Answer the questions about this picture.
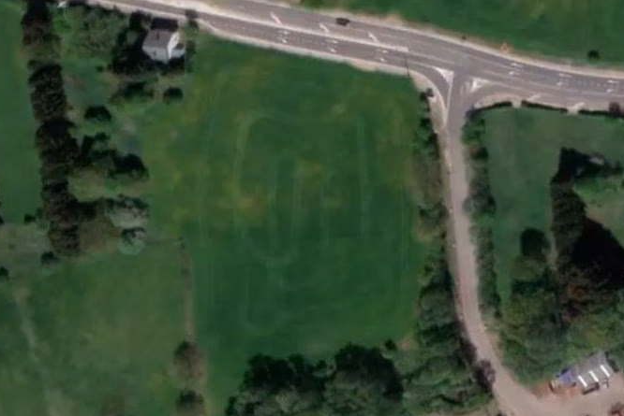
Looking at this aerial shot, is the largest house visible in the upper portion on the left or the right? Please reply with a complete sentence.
It is on the left.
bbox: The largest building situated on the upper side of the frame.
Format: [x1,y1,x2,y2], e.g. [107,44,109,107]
[144,27,184,63]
